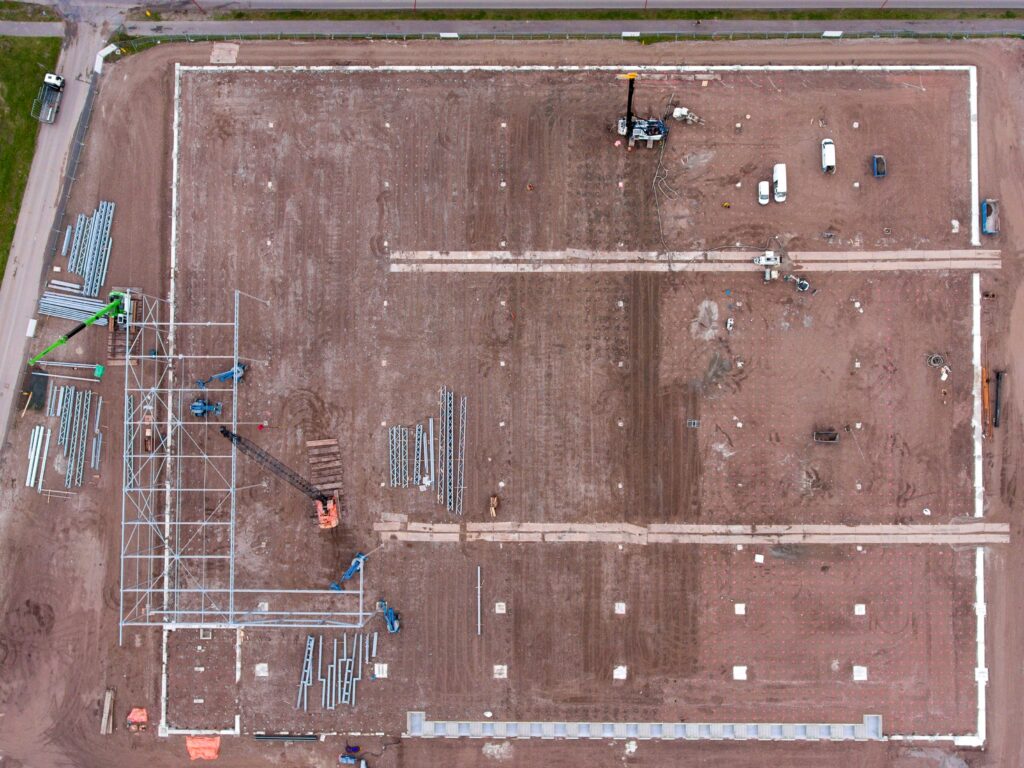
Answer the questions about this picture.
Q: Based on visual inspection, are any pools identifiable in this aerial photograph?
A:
No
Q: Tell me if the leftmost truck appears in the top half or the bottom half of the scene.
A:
top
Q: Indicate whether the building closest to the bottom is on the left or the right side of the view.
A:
left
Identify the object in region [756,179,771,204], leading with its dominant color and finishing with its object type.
white vehicle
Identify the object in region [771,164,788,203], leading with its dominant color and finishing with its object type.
white vehicle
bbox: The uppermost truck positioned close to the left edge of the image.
[35,72,67,126]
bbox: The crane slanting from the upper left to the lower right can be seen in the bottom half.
[219,428,343,530]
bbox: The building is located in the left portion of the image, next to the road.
[119,288,383,643]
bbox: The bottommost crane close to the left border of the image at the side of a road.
[25,291,137,367]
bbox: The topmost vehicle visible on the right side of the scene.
[672,103,709,126]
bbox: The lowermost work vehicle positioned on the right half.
[786,272,812,291]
